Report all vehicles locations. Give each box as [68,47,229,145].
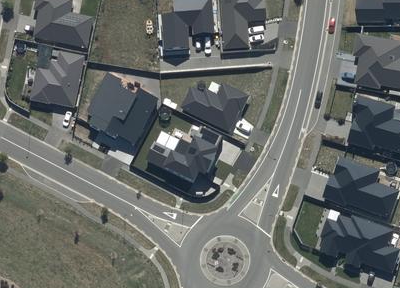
[204,38,211,54]
[62,111,72,128]
[328,18,336,34]
[340,71,350,78]
[390,232,400,247]
[236,121,252,134]
[314,90,322,107]
[250,34,264,42]
[250,26,264,34]
[368,272,375,286]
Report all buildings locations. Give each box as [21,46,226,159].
[161,0,214,52]
[346,95,400,153]
[220,0,266,52]
[32,52,84,108]
[182,84,249,135]
[318,216,398,274]
[28,0,94,50]
[144,127,222,186]
[356,0,400,24]
[88,73,158,146]
[348,34,400,92]
[322,158,399,224]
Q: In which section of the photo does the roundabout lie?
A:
bottom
